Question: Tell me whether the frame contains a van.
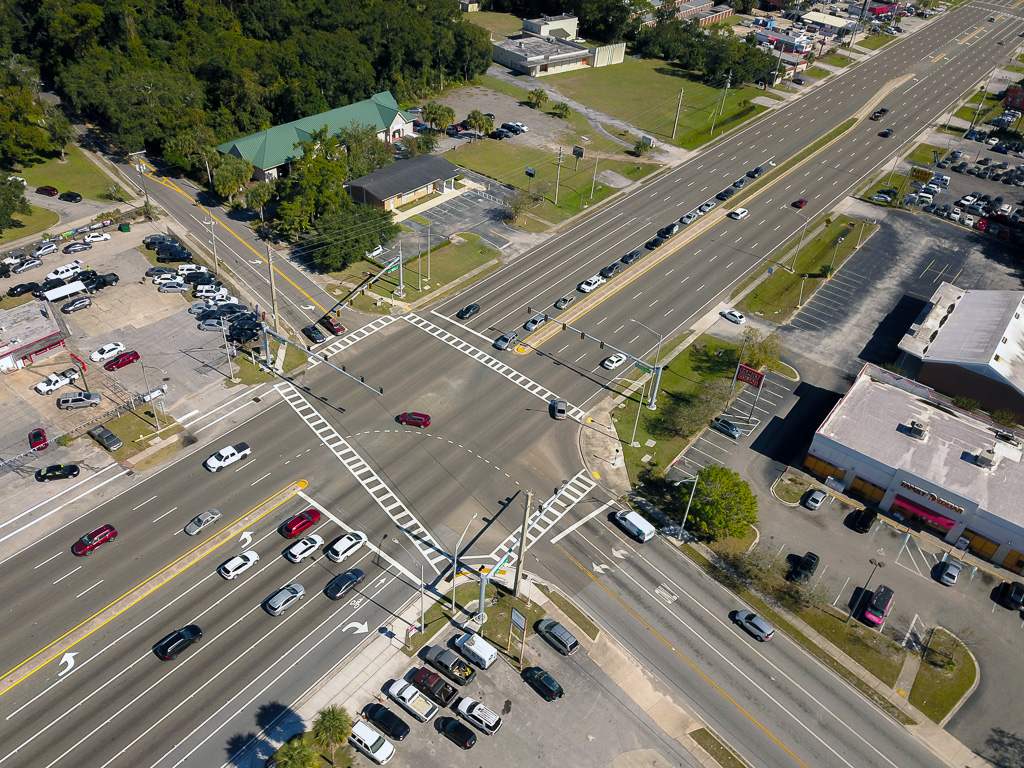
Yes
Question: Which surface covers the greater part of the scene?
paved ground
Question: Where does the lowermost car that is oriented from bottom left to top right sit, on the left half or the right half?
left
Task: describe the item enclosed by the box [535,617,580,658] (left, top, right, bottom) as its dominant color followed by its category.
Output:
gray vehicle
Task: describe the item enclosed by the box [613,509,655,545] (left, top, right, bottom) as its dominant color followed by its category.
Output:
white van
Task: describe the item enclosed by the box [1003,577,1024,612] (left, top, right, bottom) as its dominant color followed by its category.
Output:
black car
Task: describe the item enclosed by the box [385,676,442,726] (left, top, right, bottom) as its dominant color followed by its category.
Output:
white truck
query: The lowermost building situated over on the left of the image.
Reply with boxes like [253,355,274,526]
[0,303,75,389]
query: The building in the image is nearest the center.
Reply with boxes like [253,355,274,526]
[347,155,461,214]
